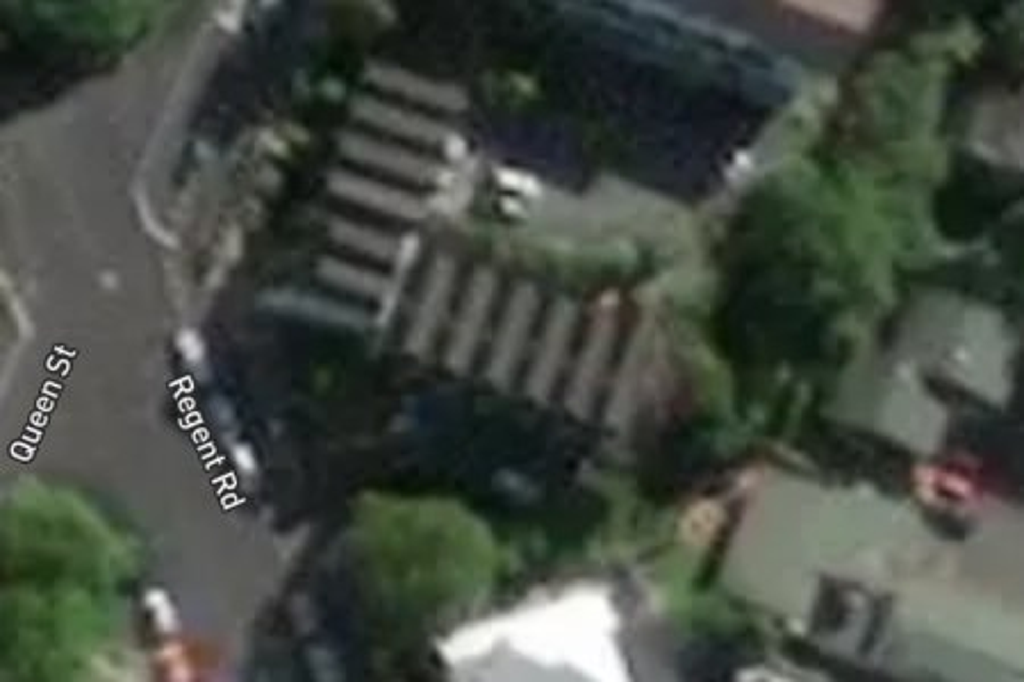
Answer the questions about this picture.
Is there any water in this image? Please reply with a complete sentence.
No, there is no water in the image.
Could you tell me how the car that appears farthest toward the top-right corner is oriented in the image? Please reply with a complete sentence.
Seen from above, the car that appears farthest toward the top-right corner lies diagonally.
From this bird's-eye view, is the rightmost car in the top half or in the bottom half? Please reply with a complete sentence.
The rightmost car sits in the bottom half of the picture.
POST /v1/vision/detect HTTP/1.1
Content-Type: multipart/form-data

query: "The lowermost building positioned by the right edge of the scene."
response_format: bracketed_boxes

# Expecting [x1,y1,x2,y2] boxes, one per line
[721,472,1024,682]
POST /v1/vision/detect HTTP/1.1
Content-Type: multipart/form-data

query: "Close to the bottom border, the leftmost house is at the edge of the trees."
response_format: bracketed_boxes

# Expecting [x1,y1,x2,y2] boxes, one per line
[439,580,640,682]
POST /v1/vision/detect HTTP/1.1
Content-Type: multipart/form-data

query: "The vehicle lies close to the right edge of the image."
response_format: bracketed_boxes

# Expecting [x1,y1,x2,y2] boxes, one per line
[922,462,984,509]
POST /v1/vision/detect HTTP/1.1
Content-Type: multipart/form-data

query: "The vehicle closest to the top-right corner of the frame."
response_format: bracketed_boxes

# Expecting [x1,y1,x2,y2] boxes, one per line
[717,142,756,185]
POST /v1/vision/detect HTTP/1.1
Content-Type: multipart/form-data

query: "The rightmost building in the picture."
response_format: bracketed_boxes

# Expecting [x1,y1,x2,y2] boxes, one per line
[966,87,1024,178]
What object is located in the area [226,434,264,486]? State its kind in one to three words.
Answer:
car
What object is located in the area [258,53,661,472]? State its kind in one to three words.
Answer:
building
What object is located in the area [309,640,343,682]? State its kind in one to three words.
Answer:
car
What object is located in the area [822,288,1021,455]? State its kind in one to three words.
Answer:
house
